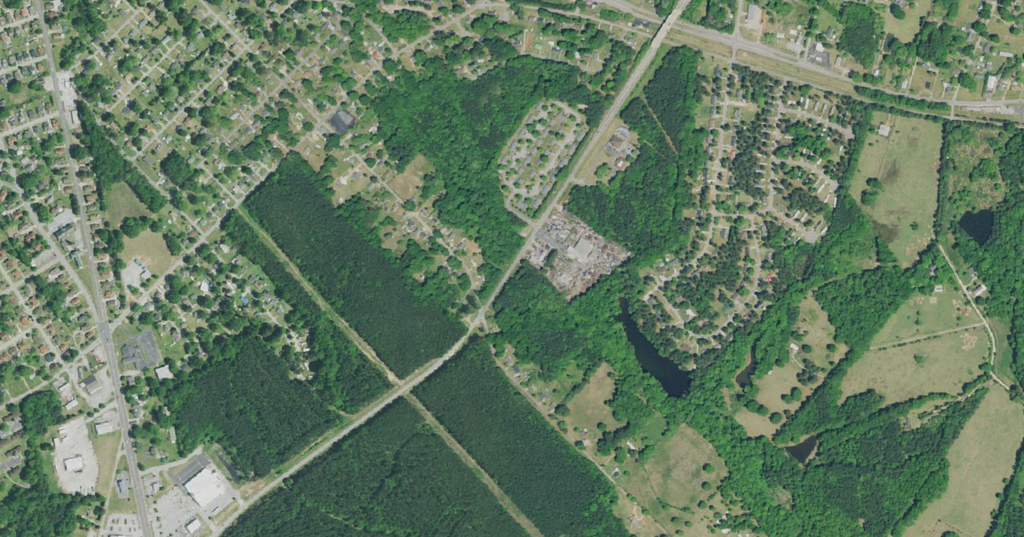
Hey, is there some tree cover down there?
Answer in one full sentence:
Yes, there is tree cover in the image.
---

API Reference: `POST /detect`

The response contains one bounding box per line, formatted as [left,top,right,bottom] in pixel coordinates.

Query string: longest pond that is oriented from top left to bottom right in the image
[614,296,691,397]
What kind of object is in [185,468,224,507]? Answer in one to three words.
building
